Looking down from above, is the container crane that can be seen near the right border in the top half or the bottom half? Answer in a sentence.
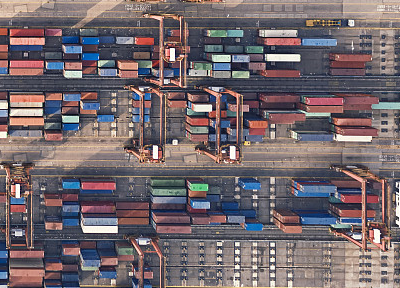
Seen from above, the container crane that can be seen near the right border lies in the bottom half of the view.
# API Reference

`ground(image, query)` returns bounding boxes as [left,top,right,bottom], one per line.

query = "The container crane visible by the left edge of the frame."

[0,165,38,248]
